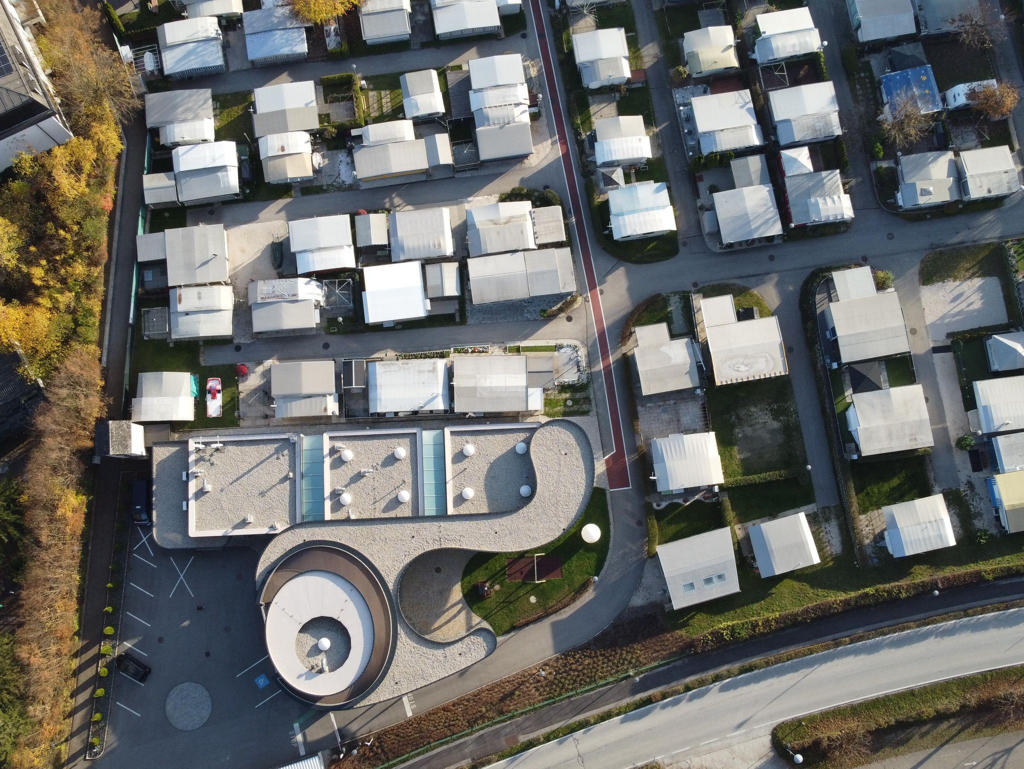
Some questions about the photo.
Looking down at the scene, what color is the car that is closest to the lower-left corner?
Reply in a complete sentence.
The car that is closest to the lower-left corner looks black in the image.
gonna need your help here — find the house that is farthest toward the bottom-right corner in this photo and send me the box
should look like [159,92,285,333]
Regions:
[655,526,740,610]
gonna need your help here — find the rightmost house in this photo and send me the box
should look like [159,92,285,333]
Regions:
[823,267,911,363]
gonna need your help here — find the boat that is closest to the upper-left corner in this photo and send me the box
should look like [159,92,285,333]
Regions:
[144,52,158,74]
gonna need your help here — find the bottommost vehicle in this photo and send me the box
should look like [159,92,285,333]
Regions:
[112,651,155,684]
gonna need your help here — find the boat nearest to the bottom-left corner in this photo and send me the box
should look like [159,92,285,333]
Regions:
[207,377,222,418]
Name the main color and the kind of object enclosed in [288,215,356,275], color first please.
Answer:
white camper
